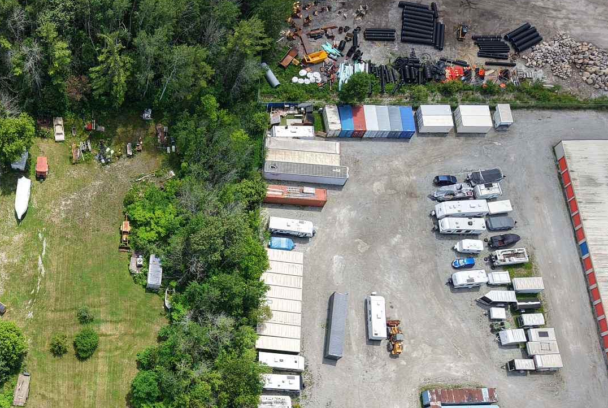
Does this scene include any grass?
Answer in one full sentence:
Yes, grass can be seen from above here.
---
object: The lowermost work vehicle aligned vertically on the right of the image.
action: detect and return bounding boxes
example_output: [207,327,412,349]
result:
[386,322,404,355]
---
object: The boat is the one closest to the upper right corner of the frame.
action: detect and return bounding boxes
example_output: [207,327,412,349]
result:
[465,168,504,183]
